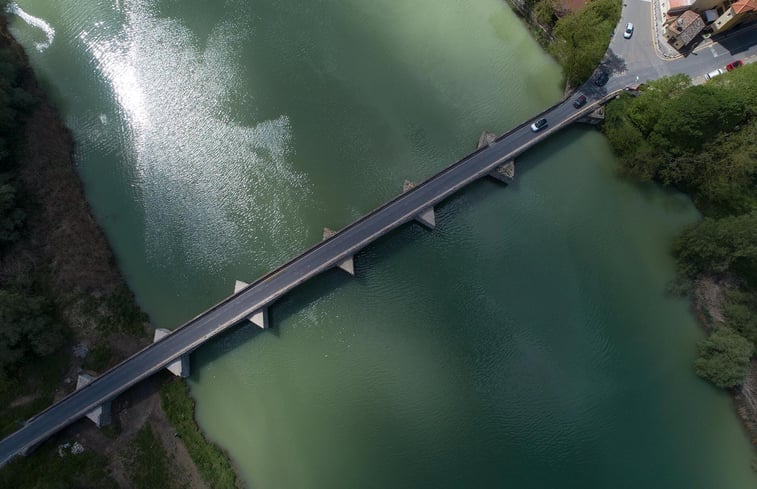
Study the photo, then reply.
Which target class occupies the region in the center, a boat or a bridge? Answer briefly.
bridge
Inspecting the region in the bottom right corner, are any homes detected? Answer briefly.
No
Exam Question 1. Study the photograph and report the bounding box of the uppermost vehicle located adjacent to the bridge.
[594,68,610,85]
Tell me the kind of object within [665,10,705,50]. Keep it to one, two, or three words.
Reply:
house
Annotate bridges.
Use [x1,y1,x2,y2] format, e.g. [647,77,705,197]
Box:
[23,78,625,445]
